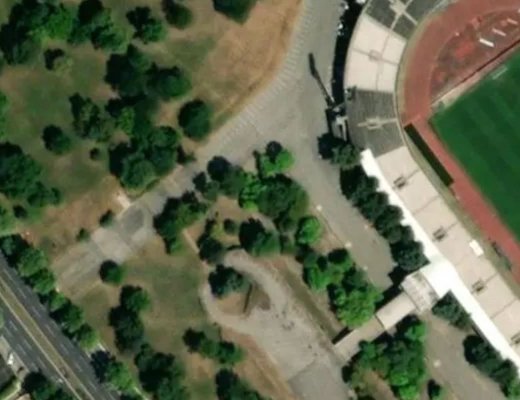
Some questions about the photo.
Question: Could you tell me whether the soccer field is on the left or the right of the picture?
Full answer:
The soccer field appears in the right half of the scene.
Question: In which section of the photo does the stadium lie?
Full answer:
The stadium sits in the right section of the image.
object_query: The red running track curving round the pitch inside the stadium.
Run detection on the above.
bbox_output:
[403,0,520,283]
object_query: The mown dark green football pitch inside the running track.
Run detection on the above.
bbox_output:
[429,38,520,236]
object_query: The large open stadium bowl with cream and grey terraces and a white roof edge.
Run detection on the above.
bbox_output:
[336,0,520,387]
